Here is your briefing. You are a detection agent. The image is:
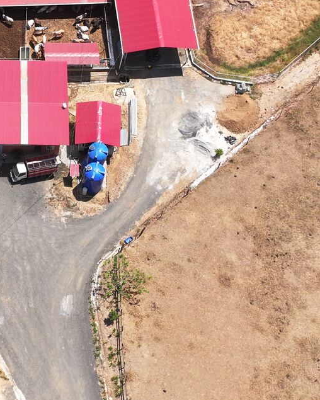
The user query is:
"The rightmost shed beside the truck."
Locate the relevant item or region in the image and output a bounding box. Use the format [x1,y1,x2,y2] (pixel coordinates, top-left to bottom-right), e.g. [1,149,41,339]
[76,98,122,147]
